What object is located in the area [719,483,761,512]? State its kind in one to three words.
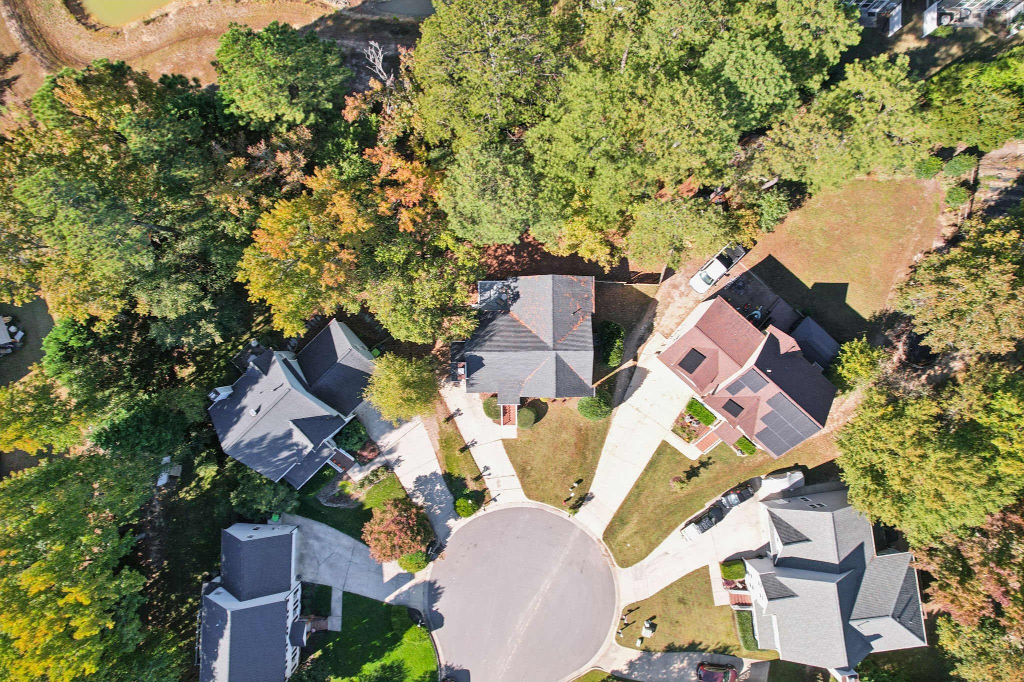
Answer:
car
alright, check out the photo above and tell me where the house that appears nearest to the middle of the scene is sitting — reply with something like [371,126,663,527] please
[451,274,597,427]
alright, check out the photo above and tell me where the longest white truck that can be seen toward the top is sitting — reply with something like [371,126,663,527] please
[696,241,750,293]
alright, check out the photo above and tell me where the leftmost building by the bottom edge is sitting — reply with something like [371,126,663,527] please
[198,525,328,682]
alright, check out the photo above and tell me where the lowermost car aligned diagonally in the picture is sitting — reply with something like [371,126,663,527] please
[683,506,728,545]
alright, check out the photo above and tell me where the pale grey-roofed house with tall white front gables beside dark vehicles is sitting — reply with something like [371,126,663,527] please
[729,495,927,682]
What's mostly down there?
trees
